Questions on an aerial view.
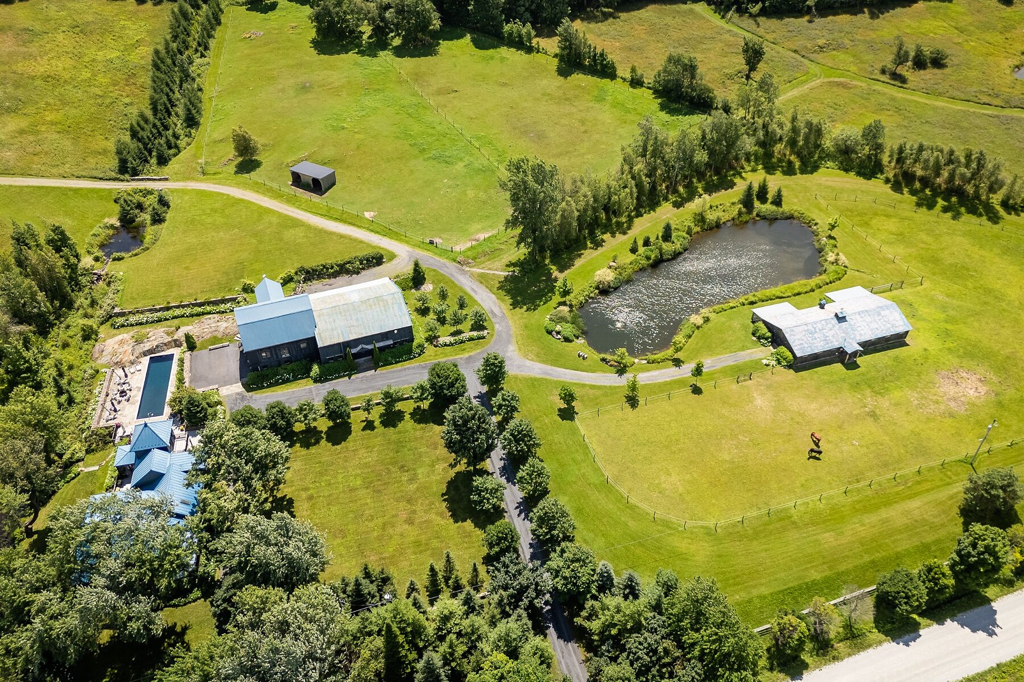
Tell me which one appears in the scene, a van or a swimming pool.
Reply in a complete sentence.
The image shows a swimming pool.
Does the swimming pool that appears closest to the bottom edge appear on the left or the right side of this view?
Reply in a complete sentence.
The swimming pool that appears closest to the bottom edge is on the left side of the image.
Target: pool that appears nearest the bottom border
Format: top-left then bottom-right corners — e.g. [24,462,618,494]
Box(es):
[134,351,177,421]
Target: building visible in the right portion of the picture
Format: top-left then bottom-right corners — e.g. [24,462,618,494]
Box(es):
[751,286,913,367]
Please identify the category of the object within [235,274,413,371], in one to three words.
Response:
barn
